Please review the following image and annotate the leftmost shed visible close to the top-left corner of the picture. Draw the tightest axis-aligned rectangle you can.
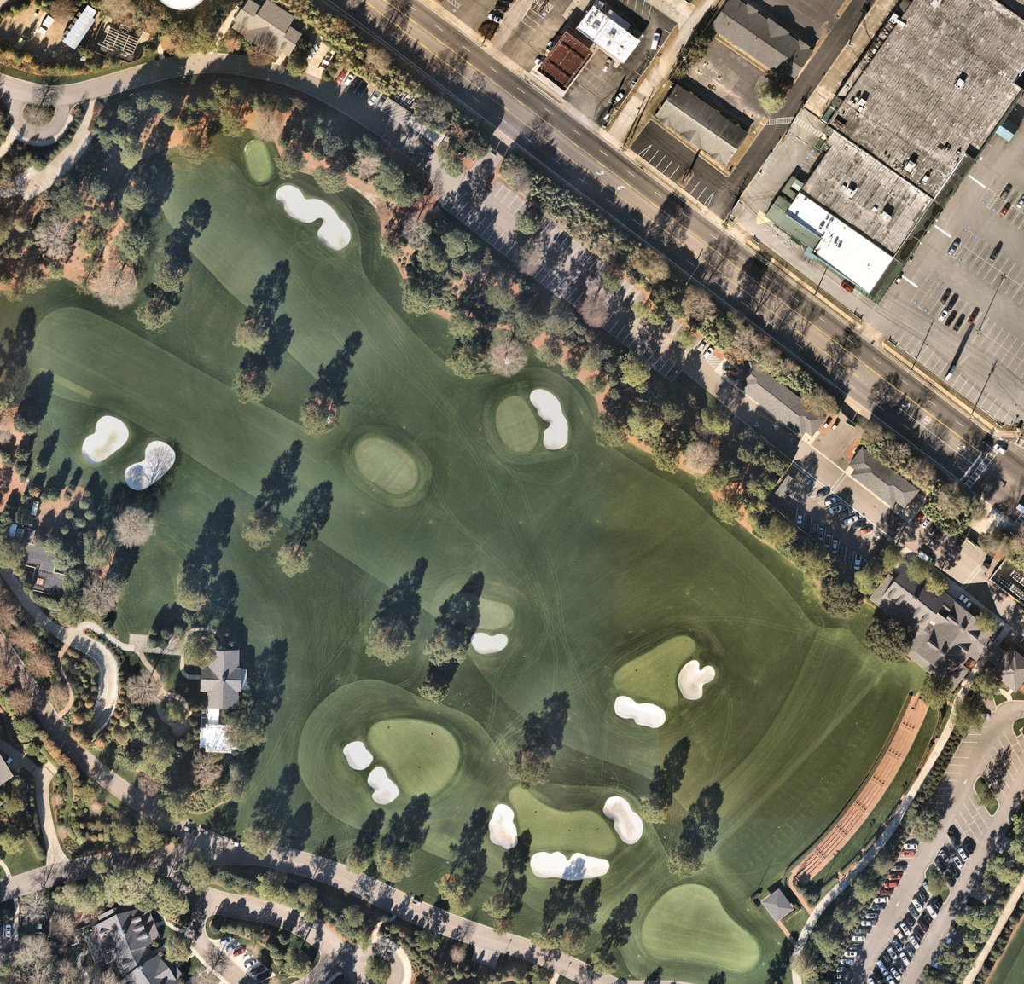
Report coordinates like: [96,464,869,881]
[61,3,99,49]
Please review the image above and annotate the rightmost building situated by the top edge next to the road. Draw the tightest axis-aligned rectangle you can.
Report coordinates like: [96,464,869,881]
[766,0,1024,304]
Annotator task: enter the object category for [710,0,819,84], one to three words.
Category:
building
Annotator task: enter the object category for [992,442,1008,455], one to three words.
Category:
vehicle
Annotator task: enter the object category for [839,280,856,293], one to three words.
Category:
vehicle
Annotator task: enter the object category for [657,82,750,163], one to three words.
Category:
building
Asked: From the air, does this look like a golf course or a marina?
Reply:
golf course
